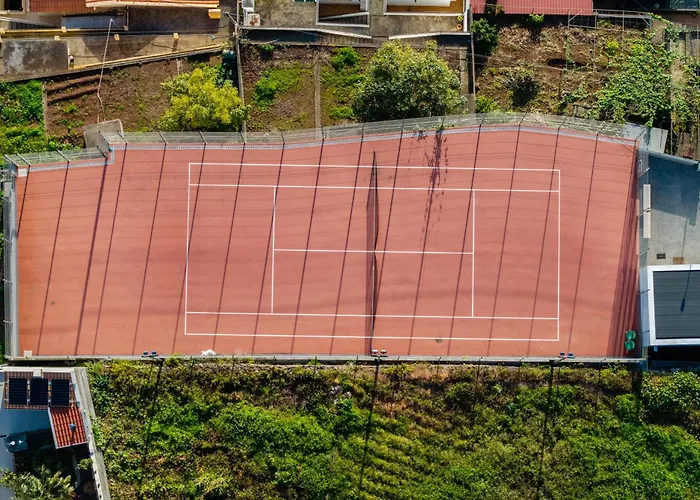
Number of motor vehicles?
zero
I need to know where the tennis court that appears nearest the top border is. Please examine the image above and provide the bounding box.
[12,126,639,358]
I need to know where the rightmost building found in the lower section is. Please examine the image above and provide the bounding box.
[645,264,700,352]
